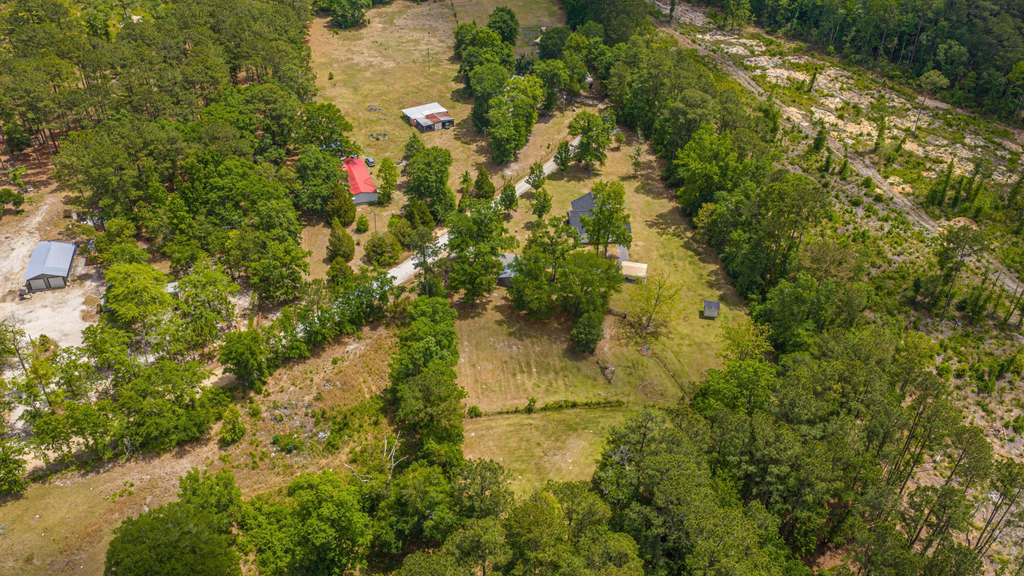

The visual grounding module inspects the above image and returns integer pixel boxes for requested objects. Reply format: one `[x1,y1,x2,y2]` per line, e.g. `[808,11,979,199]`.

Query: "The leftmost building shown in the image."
[19,242,87,295]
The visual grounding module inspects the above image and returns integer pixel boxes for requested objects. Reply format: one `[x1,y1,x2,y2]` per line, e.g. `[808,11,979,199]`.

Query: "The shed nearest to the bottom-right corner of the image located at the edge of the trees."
[702,299,721,318]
